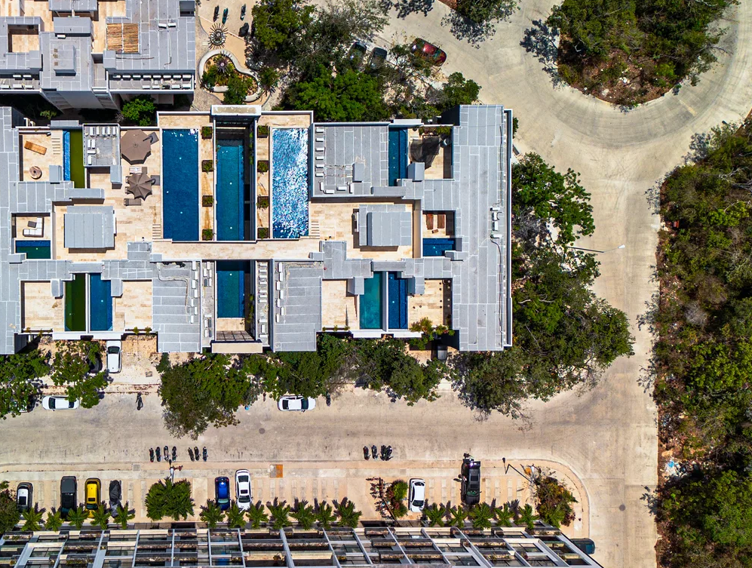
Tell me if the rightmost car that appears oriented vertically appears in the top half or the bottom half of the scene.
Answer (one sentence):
The rightmost car that appears oriented vertically is in the bottom half of the image.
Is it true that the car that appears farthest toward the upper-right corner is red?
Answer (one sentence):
Yes, red is the color of the car that appears farthest toward the upper-right corner.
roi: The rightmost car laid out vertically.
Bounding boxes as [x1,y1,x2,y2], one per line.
[462,461,484,507]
